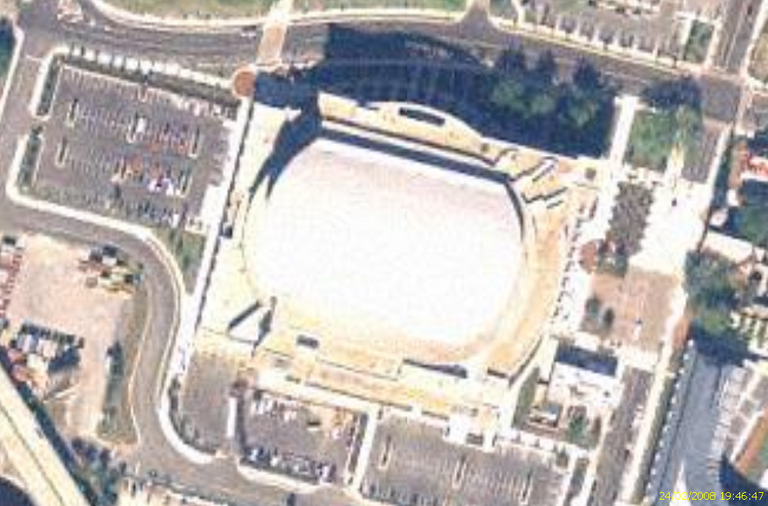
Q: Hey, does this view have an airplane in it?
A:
No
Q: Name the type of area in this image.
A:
sports ground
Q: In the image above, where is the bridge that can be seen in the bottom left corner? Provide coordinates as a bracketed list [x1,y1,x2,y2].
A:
[0,372,88,506]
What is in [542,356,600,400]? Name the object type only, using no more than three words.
building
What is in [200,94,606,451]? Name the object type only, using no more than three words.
stadium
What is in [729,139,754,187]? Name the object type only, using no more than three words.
house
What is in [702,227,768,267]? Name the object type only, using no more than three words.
building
